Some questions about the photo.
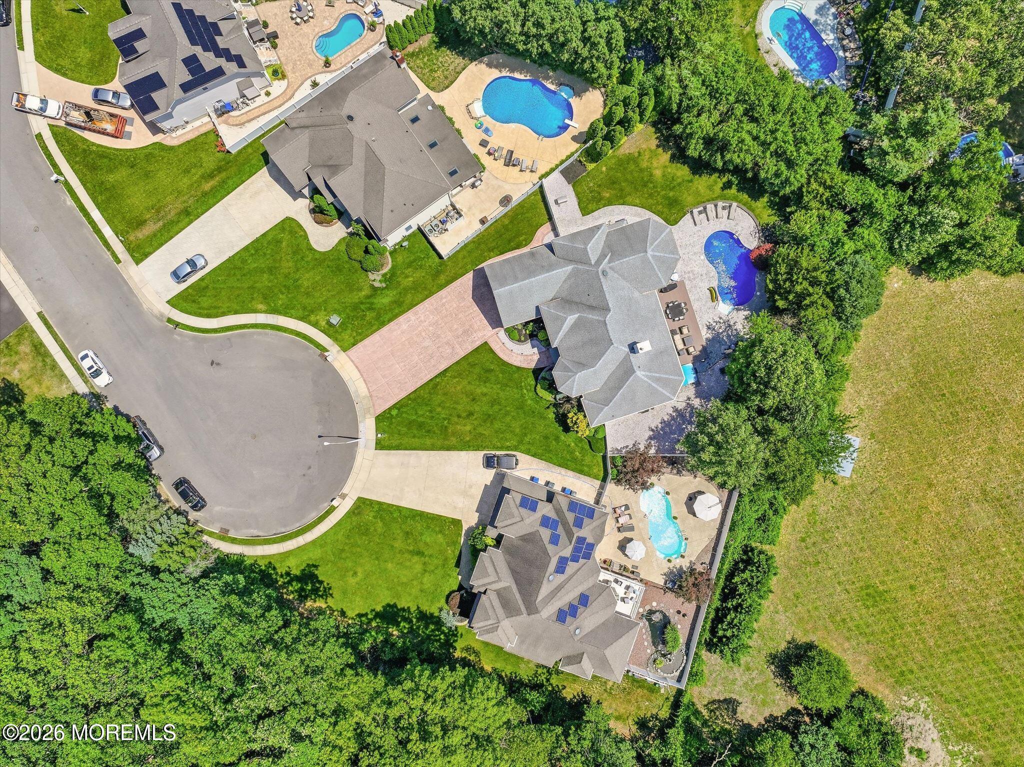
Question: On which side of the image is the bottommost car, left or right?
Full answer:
The bottommost car appears in the left half of the scene.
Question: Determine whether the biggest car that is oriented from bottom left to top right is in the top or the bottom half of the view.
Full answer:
Seen from above, the biggest car that is oriented from bottom left to top right lies in the top half of the view.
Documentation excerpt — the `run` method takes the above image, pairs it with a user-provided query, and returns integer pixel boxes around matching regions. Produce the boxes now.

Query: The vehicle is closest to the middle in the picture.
[482,453,520,471]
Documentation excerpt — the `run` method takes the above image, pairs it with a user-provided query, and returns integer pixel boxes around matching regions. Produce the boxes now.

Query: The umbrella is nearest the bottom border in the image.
[625,540,646,561]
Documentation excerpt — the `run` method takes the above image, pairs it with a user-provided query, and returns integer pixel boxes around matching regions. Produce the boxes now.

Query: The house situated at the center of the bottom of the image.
[469,472,642,684]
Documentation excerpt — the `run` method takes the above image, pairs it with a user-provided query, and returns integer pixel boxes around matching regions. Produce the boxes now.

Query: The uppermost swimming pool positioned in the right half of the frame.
[768,0,839,82]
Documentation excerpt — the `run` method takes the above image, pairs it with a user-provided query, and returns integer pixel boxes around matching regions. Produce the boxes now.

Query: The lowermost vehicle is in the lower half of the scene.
[167,475,205,515]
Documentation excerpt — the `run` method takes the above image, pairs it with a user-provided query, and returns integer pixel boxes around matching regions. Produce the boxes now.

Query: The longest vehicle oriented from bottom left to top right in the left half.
[164,252,207,284]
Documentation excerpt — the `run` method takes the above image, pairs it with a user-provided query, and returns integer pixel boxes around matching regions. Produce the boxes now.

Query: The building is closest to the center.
[484,217,685,428]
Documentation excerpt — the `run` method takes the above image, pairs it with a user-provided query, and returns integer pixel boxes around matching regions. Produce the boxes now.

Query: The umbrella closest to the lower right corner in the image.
[693,493,728,521]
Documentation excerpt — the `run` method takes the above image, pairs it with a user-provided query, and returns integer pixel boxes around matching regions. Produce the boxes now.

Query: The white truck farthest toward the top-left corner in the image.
[4,87,60,117]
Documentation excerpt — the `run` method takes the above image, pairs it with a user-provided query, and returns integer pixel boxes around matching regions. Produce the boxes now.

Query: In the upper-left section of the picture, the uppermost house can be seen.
[108,0,276,133]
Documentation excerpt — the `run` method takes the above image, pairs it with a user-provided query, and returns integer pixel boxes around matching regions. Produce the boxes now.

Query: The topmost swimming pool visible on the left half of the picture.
[312,10,368,59]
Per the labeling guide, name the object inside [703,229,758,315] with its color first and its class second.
blue swimming pool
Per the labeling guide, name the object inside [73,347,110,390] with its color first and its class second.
white car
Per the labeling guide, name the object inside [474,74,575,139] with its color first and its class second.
blue swimming pool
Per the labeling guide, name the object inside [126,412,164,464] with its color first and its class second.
gray truck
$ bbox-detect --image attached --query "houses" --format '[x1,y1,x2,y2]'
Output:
[108,0,276,133]
[484,217,685,428]
[261,42,483,246]
[469,472,642,684]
